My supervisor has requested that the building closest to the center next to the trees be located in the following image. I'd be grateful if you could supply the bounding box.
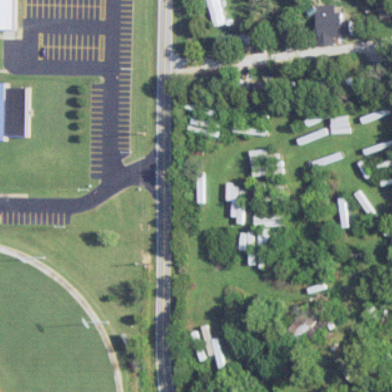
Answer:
[196,172,208,204]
